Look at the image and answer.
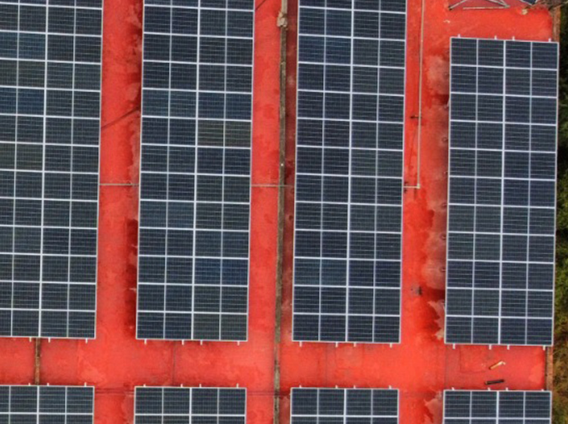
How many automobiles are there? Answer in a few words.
0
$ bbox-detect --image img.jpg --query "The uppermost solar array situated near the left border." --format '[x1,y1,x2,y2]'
[0,0,103,343]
